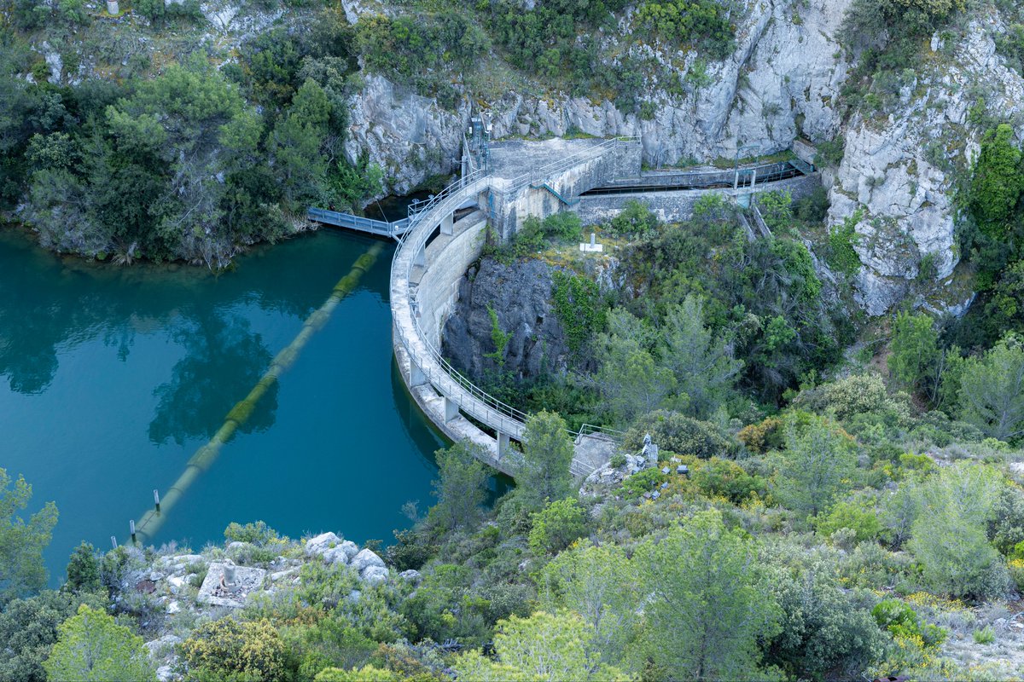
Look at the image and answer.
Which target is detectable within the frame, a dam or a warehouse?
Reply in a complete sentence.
The image shows a dam.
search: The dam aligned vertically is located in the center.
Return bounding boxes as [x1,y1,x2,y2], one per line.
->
[390,207,533,534]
